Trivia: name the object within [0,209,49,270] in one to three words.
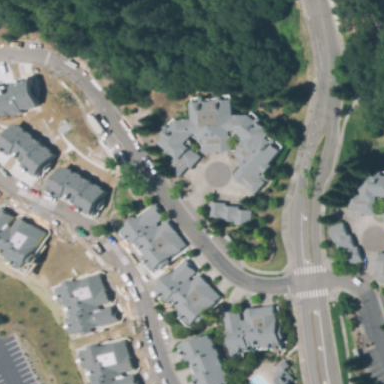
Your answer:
house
